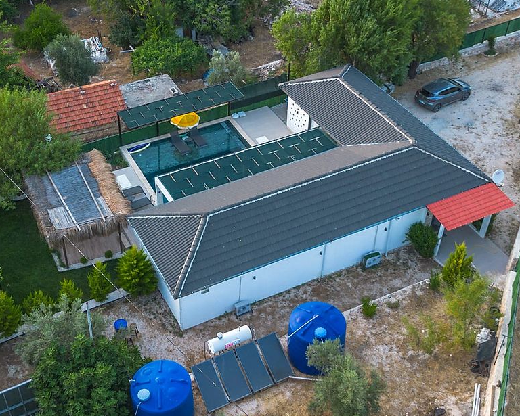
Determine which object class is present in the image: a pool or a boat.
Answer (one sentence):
I can see a pool in this picture.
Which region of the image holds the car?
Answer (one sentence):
Look in the top right portion of the view to spot the car.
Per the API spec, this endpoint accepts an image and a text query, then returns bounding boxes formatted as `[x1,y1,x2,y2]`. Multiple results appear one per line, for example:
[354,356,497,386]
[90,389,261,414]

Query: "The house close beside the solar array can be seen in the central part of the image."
[125,61,492,331]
